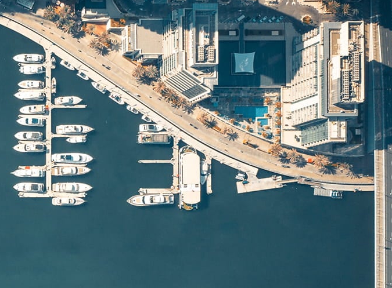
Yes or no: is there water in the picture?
Yes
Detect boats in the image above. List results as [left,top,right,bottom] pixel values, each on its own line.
[127,195,175,206]
[14,132,44,140]
[13,183,46,192]
[137,134,171,143]
[75,71,89,80]
[53,125,95,134]
[59,59,75,70]
[50,197,86,205]
[51,183,93,192]
[66,137,88,143]
[19,65,45,74]
[140,113,151,122]
[12,168,46,177]
[177,148,200,211]
[52,96,83,104]
[51,153,95,163]
[136,124,164,132]
[233,173,245,180]
[13,53,46,63]
[20,105,46,114]
[13,143,46,152]
[19,80,46,89]
[108,91,123,104]
[93,83,108,96]
[14,91,46,99]
[125,103,139,113]
[16,117,46,126]
[51,166,91,175]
